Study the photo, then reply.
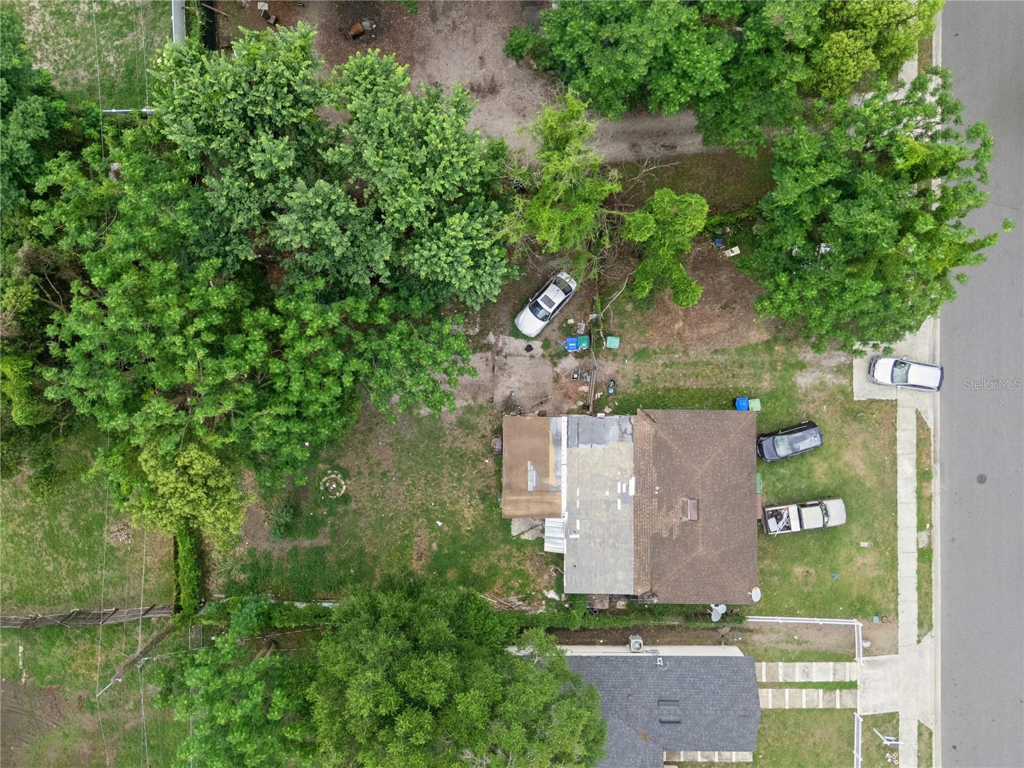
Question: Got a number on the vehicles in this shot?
4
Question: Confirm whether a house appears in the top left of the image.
No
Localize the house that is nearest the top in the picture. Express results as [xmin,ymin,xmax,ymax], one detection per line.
[503,409,758,608]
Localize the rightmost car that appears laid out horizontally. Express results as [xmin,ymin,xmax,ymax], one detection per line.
[862,355,950,392]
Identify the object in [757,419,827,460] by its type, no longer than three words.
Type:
car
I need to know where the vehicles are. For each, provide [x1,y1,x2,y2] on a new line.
[515,270,579,338]
[862,355,950,392]
[757,496,847,537]
[757,419,827,460]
